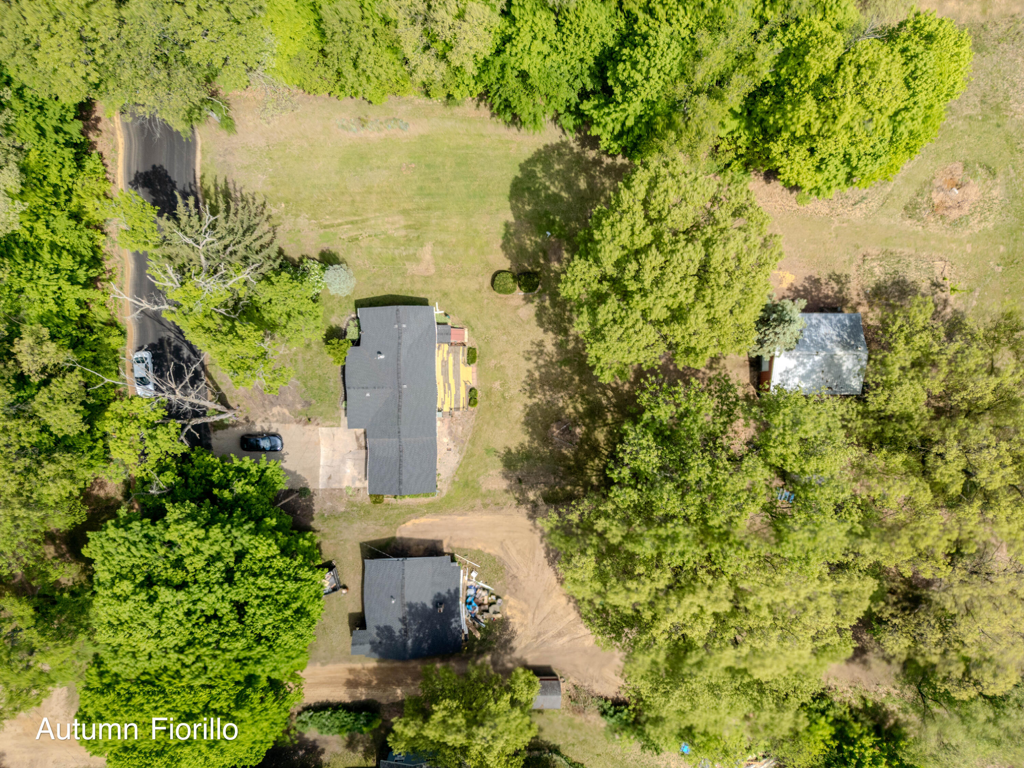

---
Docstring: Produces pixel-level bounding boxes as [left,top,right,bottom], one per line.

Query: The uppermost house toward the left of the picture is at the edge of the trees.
[344,302,444,499]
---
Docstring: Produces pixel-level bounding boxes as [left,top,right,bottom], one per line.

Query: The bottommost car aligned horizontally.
[238,434,282,454]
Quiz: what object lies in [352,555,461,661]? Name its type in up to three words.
house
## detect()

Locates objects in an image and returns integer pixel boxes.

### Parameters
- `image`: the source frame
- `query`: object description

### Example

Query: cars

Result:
[129,351,153,395]
[238,434,282,454]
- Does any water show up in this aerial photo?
No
